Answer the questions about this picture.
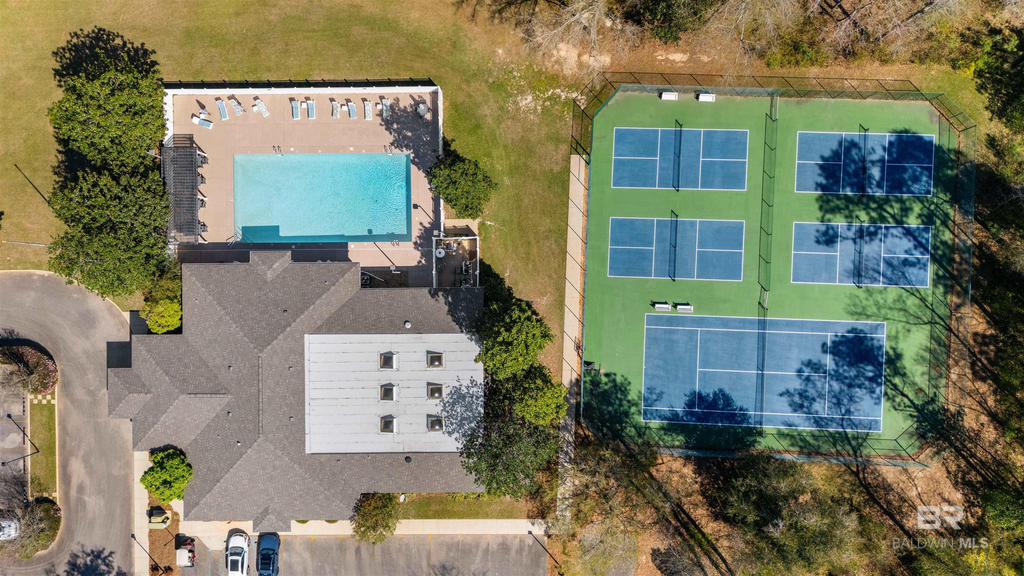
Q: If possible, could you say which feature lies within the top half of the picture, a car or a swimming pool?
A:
swimming pool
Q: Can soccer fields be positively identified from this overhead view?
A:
No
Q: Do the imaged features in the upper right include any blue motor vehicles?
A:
No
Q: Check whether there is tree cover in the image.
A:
Yes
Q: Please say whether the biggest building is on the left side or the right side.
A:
left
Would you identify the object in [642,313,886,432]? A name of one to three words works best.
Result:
tennis court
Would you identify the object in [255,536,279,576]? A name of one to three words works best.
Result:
car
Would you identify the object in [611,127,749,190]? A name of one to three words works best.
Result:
sports court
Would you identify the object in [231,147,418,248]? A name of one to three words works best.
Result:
swimming pool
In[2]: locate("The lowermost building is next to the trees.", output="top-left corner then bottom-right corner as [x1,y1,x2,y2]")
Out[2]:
[107,250,485,532]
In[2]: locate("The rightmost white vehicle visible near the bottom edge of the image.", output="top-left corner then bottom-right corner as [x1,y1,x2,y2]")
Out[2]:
[223,536,248,576]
